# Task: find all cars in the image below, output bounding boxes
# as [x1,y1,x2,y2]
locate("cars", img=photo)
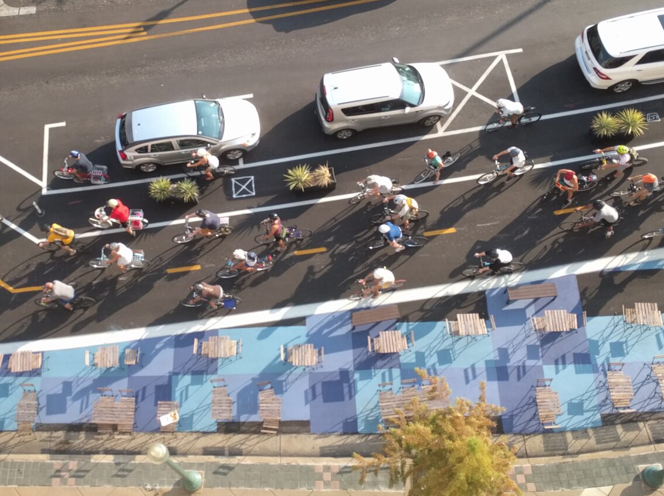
[312,53,455,140]
[109,90,259,173]
[574,7,664,93]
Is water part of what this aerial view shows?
No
